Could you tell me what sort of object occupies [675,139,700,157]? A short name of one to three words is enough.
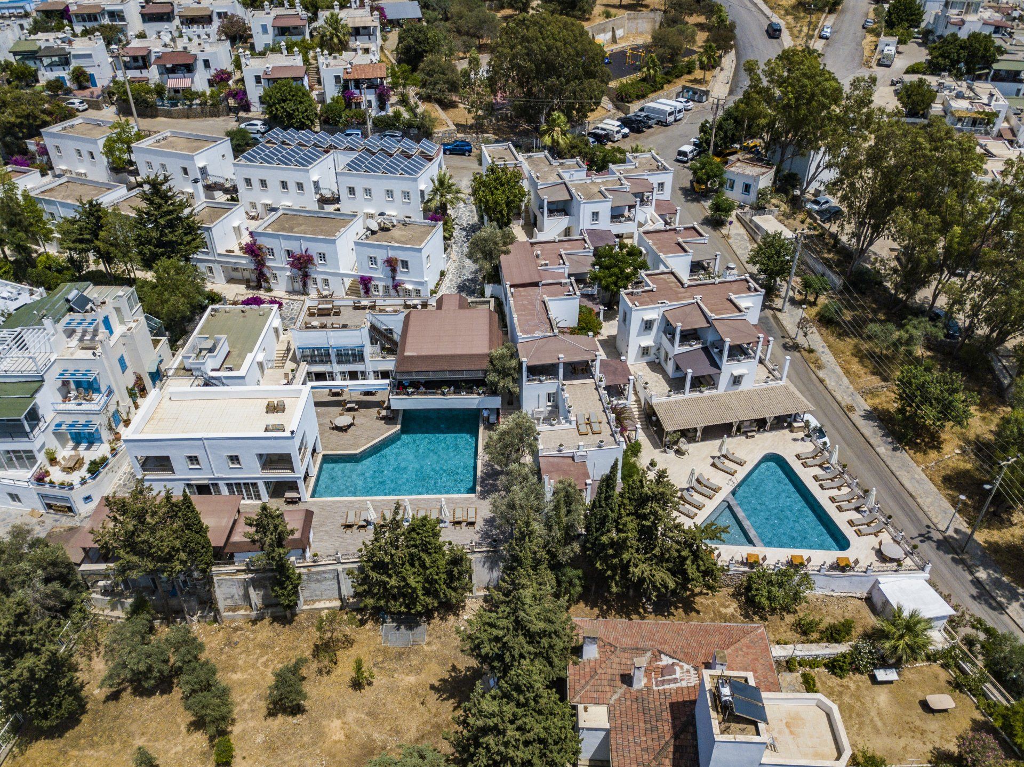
car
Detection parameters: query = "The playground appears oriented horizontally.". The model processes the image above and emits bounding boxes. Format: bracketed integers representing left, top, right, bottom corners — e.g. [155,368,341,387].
[604,47,701,84]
